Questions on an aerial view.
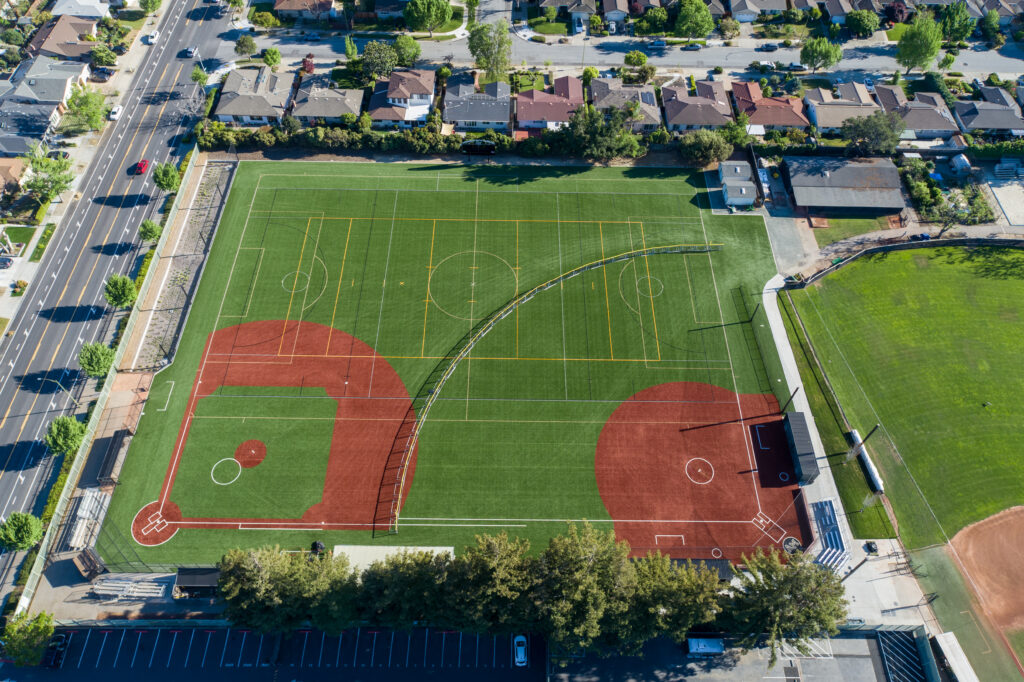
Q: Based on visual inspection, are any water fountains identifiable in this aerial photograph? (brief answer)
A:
No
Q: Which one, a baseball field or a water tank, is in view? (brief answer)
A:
baseball field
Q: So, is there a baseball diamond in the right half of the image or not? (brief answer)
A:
Yes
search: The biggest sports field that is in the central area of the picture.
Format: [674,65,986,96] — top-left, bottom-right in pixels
[99,161,827,580]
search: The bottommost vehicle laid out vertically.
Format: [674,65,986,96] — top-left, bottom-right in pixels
[513,634,527,668]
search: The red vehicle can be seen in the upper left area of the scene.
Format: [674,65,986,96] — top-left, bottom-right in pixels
[136,161,149,174]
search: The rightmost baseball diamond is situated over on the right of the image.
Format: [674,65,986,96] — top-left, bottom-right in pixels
[786,242,1024,682]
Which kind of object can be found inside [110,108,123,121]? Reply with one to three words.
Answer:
vehicle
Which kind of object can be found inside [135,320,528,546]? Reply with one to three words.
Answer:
baseball field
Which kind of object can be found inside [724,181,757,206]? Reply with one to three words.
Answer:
shed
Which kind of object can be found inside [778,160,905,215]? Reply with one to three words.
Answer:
barn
